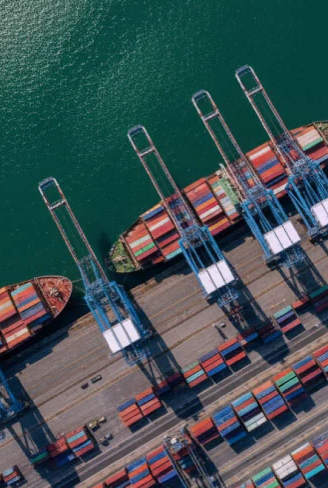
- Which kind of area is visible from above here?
port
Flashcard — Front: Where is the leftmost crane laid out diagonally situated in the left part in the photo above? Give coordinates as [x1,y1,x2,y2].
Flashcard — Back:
[35,174,167,362]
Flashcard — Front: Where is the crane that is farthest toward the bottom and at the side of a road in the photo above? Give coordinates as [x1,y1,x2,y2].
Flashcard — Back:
[152,418,222,488]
